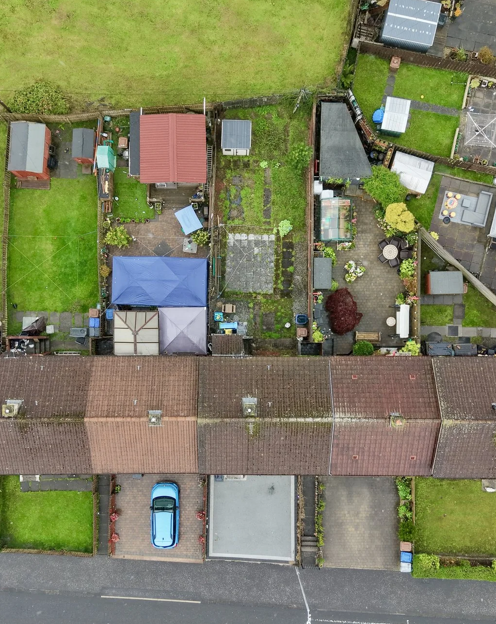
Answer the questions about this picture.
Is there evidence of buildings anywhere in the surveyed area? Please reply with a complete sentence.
Yes, the picture does show a building.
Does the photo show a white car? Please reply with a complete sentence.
No, the picture doesn't show any white car.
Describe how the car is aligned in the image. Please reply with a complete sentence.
I'd say the car is aligned up and down in the picture.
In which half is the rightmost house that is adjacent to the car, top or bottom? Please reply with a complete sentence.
It is in the bottom half that the rightmost house that is adjacent to the car appears.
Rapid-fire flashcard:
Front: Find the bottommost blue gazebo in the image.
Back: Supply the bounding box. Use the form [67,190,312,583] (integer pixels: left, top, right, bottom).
[112,256,208,307]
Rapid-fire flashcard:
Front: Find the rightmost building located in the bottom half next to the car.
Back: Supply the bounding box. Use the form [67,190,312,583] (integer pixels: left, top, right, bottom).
[198,354,336,477]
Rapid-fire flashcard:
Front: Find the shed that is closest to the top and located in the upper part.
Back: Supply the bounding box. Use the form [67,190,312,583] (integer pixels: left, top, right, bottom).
[379,0,442,54]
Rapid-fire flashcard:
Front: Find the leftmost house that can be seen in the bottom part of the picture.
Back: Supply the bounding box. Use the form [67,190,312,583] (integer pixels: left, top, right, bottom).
[0,353,92,476]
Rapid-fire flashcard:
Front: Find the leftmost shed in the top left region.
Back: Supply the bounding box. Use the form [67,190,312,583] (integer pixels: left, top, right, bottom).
[8,120,51,176]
